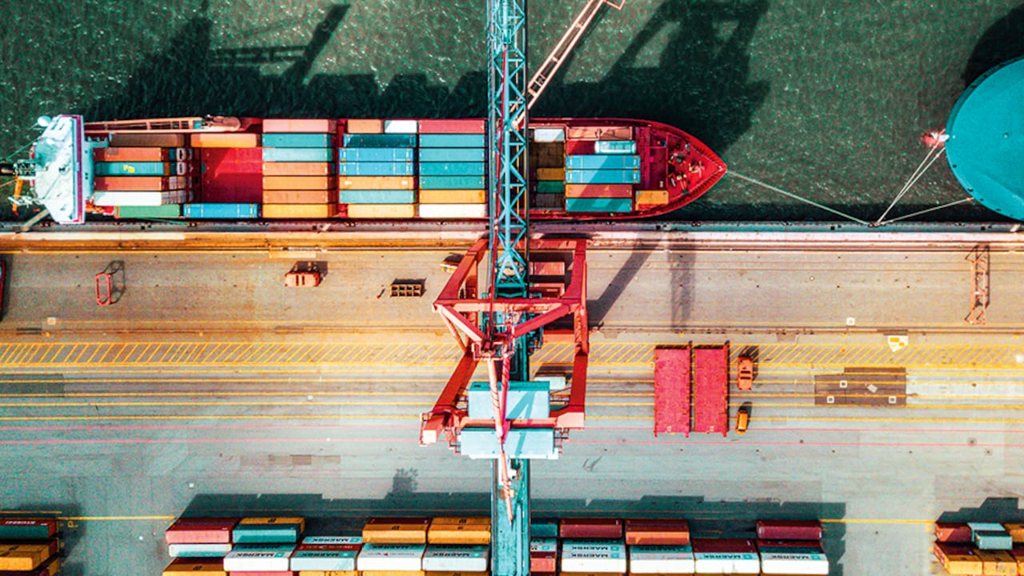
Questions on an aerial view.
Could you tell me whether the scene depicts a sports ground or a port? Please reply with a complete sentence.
What you see here is a port.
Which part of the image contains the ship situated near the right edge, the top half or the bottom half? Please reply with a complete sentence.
It is in the top half that the ship situated near the right edge appears.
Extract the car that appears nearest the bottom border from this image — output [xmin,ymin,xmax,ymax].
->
[735,405,749,432]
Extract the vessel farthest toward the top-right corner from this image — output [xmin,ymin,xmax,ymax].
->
[927,58,1024,218]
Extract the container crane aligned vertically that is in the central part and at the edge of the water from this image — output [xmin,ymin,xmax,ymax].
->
[418,0,600,576]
